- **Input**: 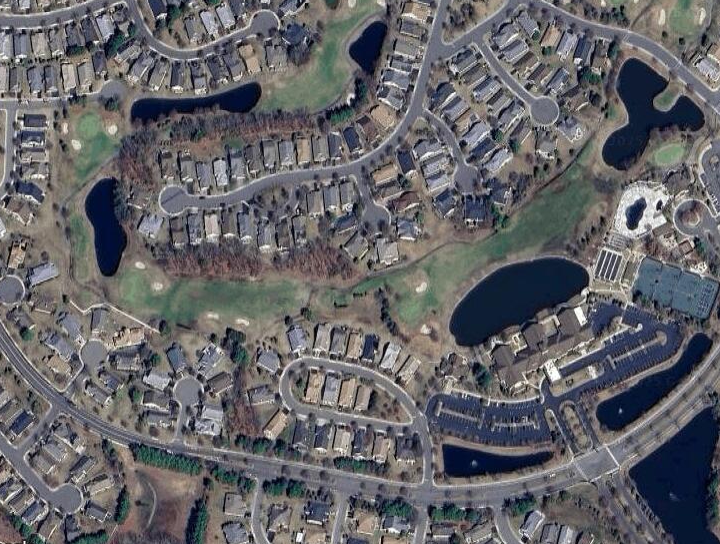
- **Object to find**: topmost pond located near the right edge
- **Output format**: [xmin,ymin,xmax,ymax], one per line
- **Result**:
[603,59,704,171]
